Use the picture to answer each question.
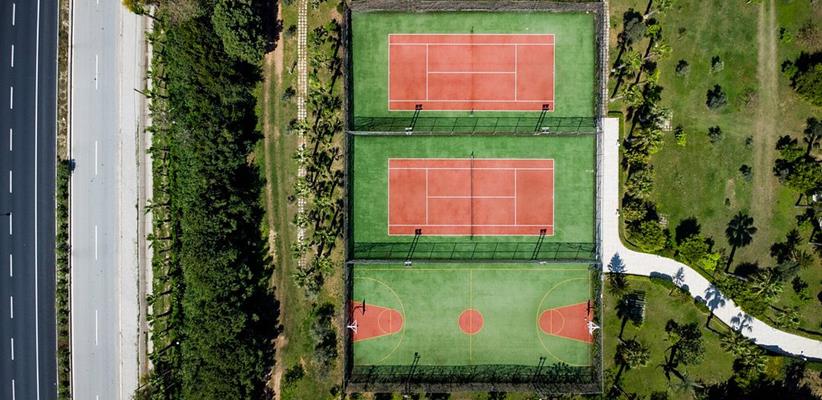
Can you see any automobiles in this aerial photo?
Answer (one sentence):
No, I find no automobile anywhere in the image.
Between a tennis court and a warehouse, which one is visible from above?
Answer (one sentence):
It is a tennis court that can be seen here.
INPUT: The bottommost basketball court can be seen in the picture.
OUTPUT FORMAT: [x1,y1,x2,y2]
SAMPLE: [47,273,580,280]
[349,264,597,385]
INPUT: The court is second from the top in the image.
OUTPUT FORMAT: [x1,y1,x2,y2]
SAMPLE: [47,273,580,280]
[349,135,597,261]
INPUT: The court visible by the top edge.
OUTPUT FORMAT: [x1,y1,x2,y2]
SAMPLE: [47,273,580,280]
[349,10,597,132]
